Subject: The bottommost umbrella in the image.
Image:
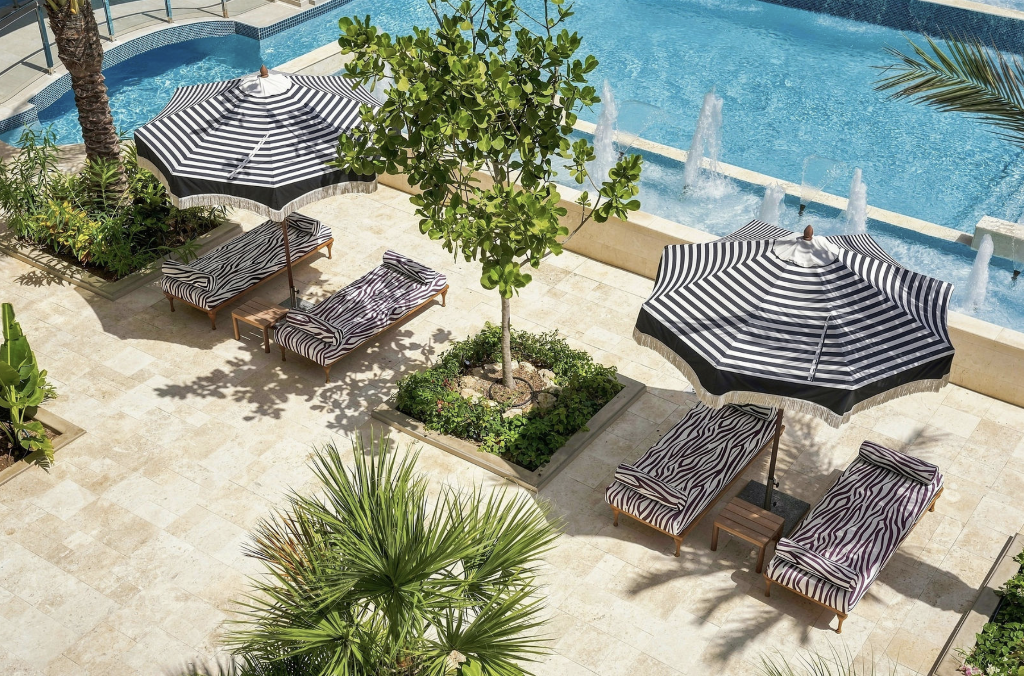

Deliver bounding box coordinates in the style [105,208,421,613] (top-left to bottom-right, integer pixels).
[634,221,953,539]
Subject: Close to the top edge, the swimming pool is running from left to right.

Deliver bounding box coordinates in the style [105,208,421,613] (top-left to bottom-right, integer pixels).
[0,0,1024,235]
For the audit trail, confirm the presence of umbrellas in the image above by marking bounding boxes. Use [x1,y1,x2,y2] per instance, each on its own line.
[137,63,387,322]
[634,221,953,539]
